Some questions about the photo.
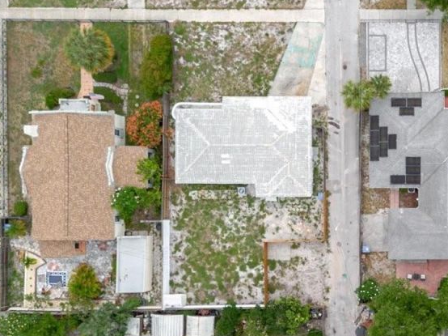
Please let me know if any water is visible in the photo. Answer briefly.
No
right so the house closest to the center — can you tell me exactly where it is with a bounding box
[173,97,313,200]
